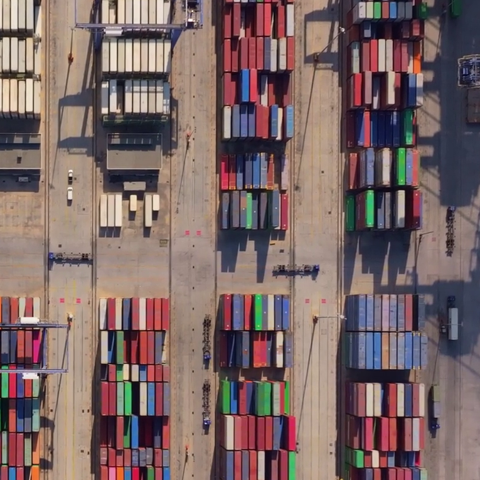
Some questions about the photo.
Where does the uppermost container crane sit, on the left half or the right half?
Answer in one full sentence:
The uppermost container crane appears in the left half of the scene.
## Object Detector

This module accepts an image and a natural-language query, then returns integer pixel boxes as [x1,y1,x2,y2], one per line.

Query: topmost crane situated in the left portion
[75,0,207,54]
